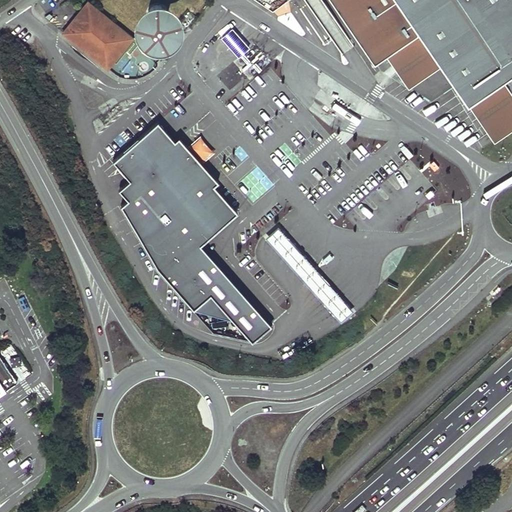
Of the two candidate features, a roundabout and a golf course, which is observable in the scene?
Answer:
roundabout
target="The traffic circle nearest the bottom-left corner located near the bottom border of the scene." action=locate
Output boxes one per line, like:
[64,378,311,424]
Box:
[93,358,233,498]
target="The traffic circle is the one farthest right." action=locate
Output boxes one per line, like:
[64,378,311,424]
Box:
[470,164,512,264]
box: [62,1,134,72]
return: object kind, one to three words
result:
house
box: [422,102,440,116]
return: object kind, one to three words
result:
vehicle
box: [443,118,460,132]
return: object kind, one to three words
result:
vehicle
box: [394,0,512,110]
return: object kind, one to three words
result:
building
